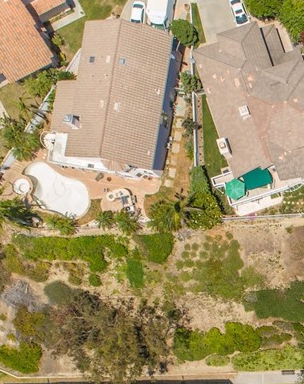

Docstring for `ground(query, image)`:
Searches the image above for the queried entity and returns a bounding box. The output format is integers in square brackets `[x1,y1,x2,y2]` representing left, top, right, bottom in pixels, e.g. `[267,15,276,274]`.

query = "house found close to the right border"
[193,21,304,210]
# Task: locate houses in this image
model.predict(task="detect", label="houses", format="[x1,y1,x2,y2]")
[44,18,183,179]
[0,0,73,84]
[193,21,304,210]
